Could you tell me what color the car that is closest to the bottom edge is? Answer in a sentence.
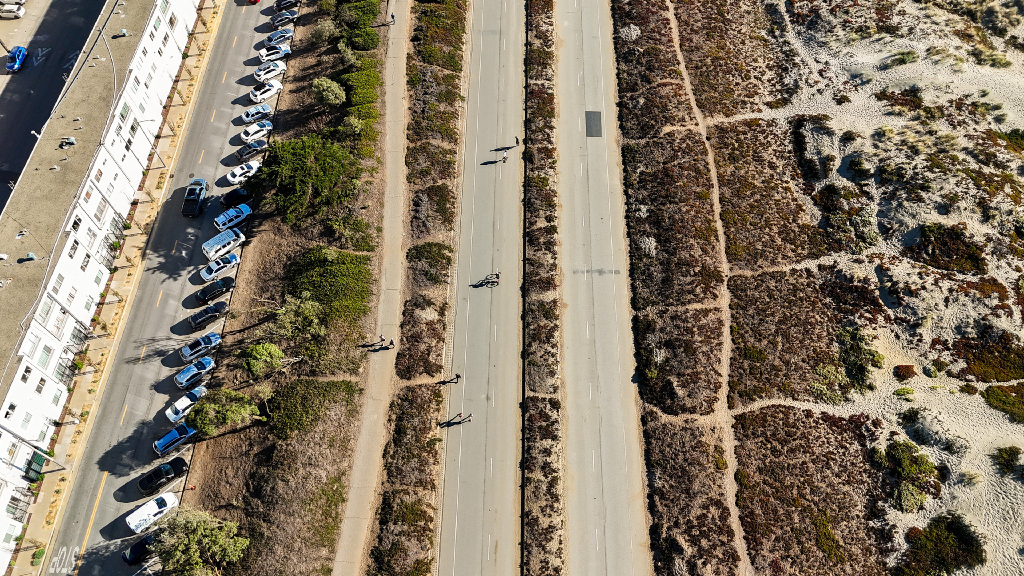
From above, the car that is closest to the bottom edge appears black.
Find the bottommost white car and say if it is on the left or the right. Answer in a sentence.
The bottommost white car is on the left side of the image.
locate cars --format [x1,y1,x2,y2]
[162,388,209,423]
[0,3,27,19]
[262,28,297,47]
[224,161,264,187]
[117,528,167,568]
[192,279,236,310]
[176,332,224,366]
[252,59,289,83]
[199,253,242,284]
[5,46,31,72]
[136,458,188,497]
[248,79,285,103]
[184,303,231,336]
[236,120,275,143]
[270,0,304,12]
[212,204,254,232]
[174,359,218,392]
[238,102,277,126]
[231,137,271,164]
[121,490,182,535]
[150,422,198,459]
[265,9,300,31]
[217,184,258,210]
[256,43,292,63]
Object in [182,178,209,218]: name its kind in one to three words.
truck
